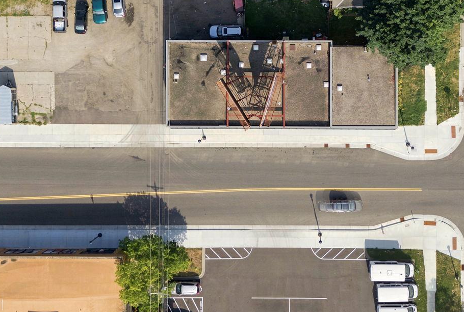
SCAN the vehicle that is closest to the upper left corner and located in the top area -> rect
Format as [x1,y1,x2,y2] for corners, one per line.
[51,0,67,32]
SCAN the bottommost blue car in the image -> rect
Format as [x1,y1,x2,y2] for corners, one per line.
[209,23,244,40]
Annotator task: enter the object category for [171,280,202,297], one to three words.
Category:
car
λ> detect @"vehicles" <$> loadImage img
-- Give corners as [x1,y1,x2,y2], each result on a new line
[72,0,89,35]
[377,284,418,302]
[171,280,202,297]
[321,197,358,213]
[370,263,414,281]
[376,304,417,312]
[51,0,67,32]
[209,23,244,40]
[90,0,107,23]
[112,0,126,17]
